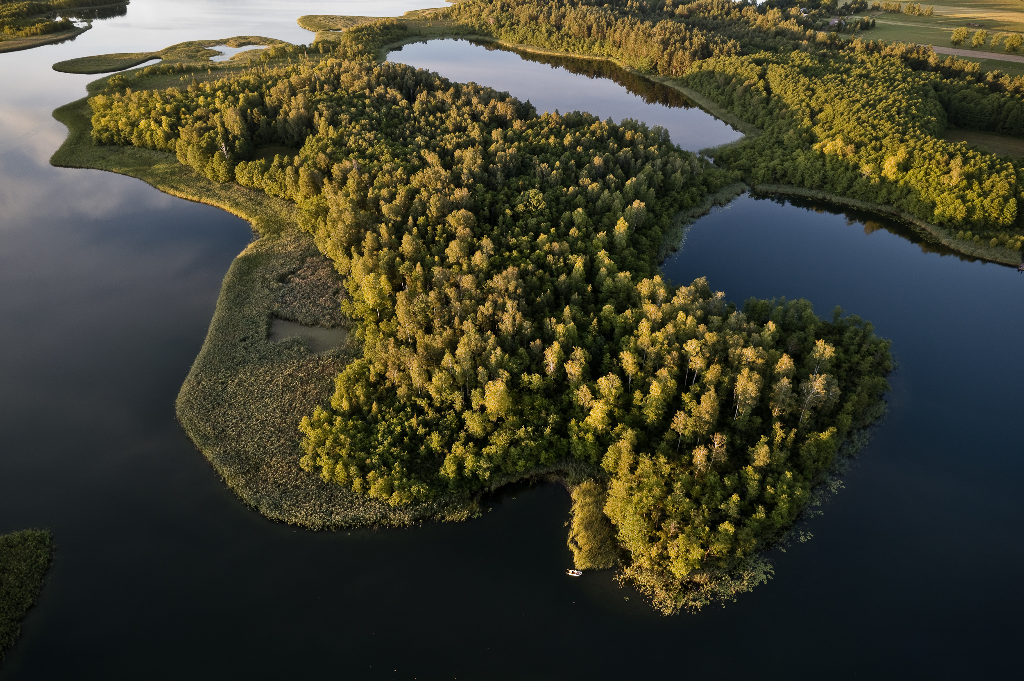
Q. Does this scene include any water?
Yes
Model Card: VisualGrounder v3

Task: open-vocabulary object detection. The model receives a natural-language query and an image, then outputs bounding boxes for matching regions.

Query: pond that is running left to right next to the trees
[267,317,353,361]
